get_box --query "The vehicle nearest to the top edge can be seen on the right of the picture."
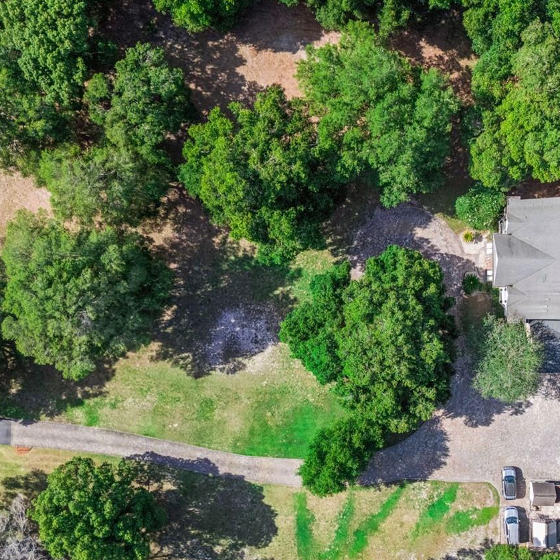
[501,466,517,498]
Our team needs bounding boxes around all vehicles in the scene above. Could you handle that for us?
[503,506,519,545]
[501,466,517,498]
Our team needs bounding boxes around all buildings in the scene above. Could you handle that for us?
[529,480,556,506]
[484,196,560,372]
[531,517,556,549]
